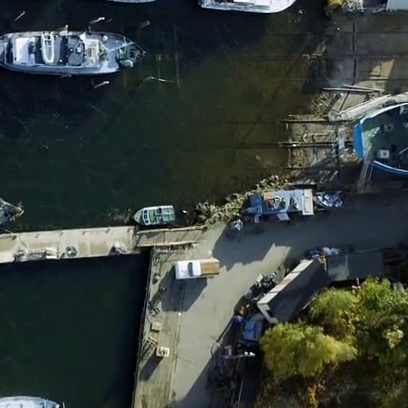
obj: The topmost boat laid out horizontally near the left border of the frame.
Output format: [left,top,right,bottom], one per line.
[0,30,145,76]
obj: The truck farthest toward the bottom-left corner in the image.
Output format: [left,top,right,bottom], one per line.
[173,259,220,281]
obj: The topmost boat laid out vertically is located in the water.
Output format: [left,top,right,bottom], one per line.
[42,31,55,64]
